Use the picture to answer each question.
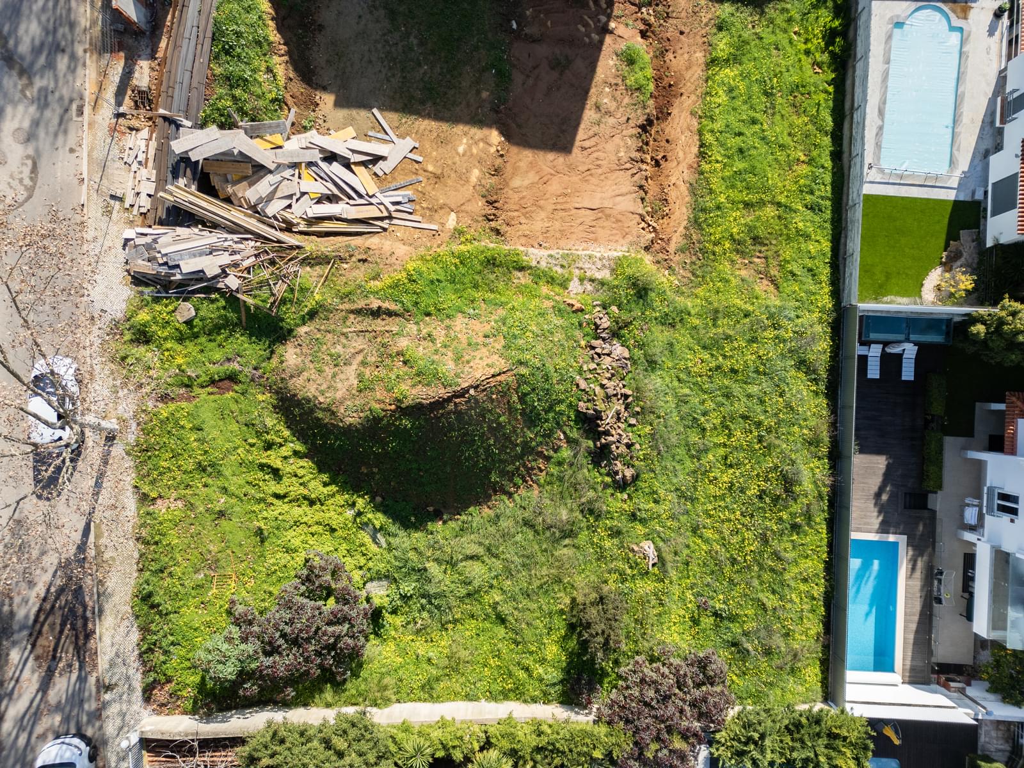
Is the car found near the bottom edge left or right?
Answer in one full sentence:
The car found near the bottom edge sits on the left side.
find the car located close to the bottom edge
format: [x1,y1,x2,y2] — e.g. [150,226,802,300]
[42,734,97,768]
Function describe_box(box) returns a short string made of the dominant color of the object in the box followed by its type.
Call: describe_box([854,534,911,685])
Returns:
blue swimming pool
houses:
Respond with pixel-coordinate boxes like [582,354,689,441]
[989,0,1024,248]
[956,392,1024,670]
